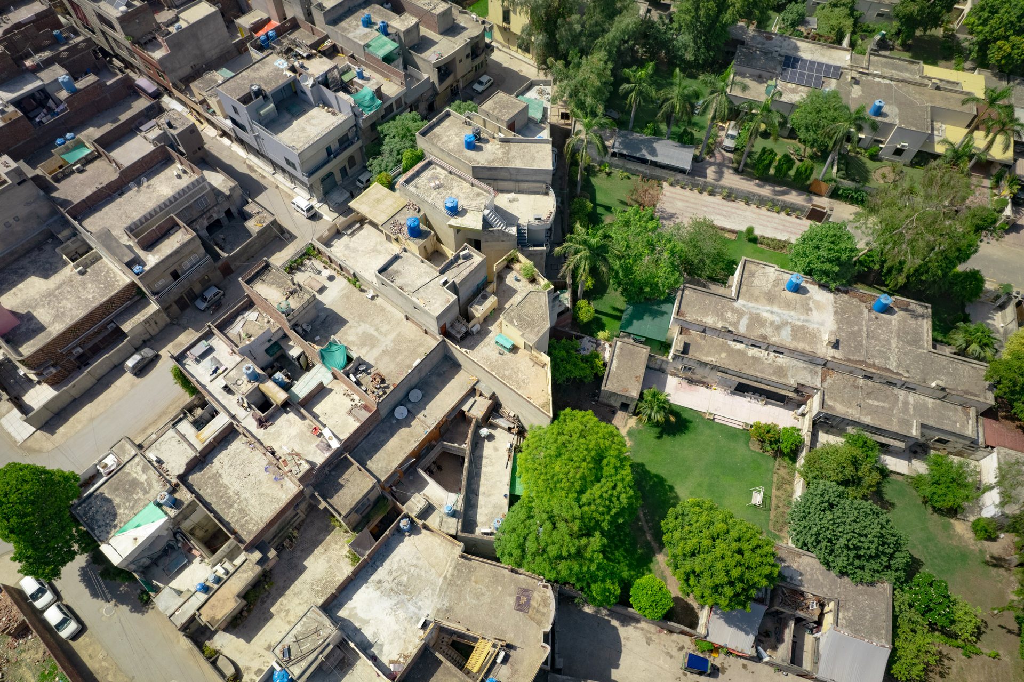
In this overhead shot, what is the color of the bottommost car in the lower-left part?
white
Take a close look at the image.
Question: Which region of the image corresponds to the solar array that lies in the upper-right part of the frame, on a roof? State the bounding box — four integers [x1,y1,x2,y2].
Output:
[778,56,841,92]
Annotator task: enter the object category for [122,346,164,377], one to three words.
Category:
car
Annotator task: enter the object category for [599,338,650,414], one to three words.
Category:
house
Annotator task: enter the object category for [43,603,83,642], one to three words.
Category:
car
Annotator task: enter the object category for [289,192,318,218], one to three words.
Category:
vehicle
